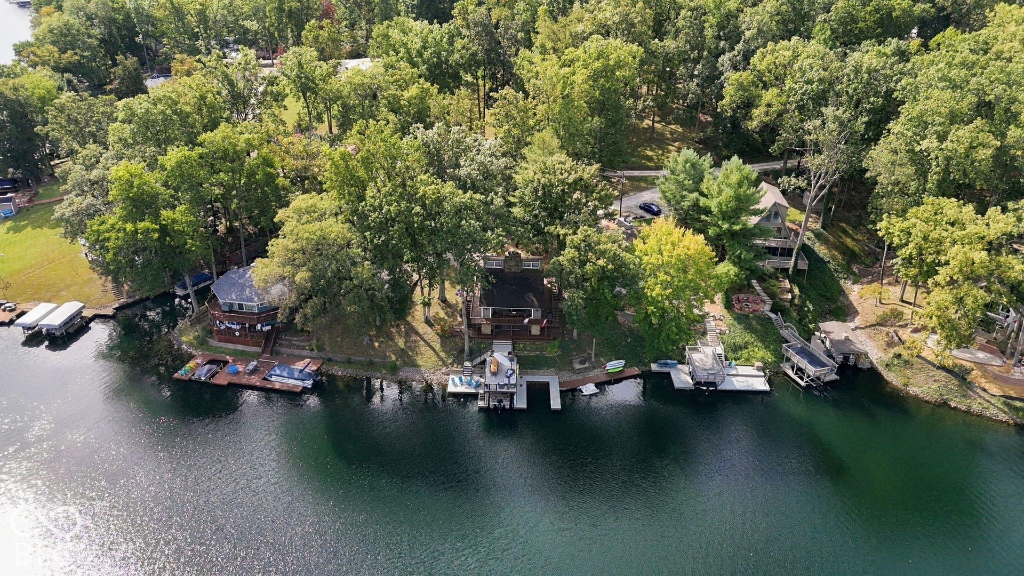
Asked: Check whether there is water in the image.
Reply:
Yes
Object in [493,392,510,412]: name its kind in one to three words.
boat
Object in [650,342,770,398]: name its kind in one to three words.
pier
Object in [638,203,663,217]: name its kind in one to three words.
car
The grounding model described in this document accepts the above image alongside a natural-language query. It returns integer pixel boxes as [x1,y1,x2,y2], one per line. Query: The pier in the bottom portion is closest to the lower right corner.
[774,341,838,392]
